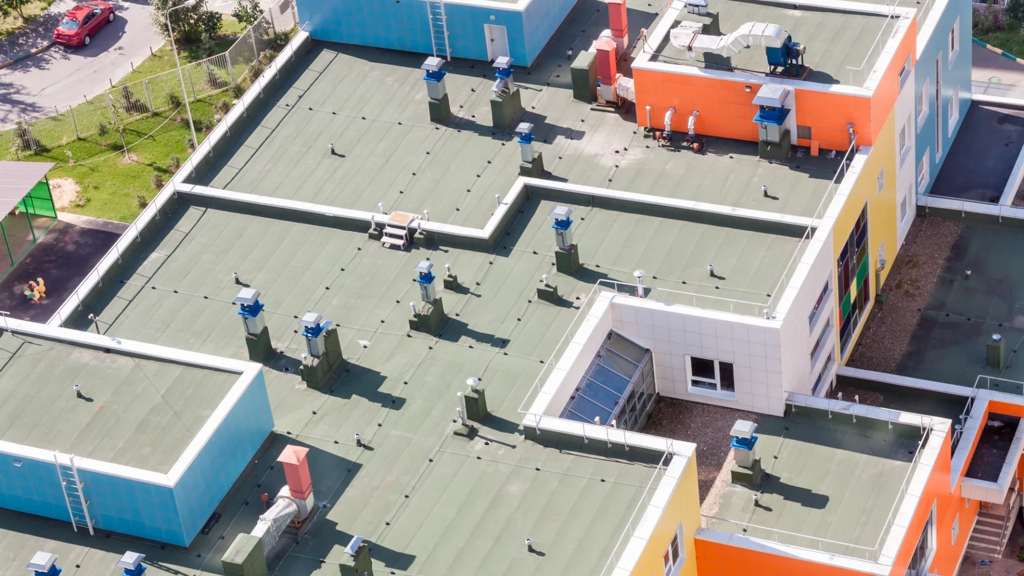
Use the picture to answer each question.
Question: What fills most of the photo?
buildings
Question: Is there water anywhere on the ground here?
No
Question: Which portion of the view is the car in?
top left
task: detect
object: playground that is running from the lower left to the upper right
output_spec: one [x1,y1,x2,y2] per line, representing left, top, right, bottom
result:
[0,219,125,326]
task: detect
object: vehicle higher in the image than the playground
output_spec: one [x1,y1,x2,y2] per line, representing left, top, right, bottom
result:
[54,0,115,44]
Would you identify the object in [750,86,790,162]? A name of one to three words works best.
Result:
chimney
